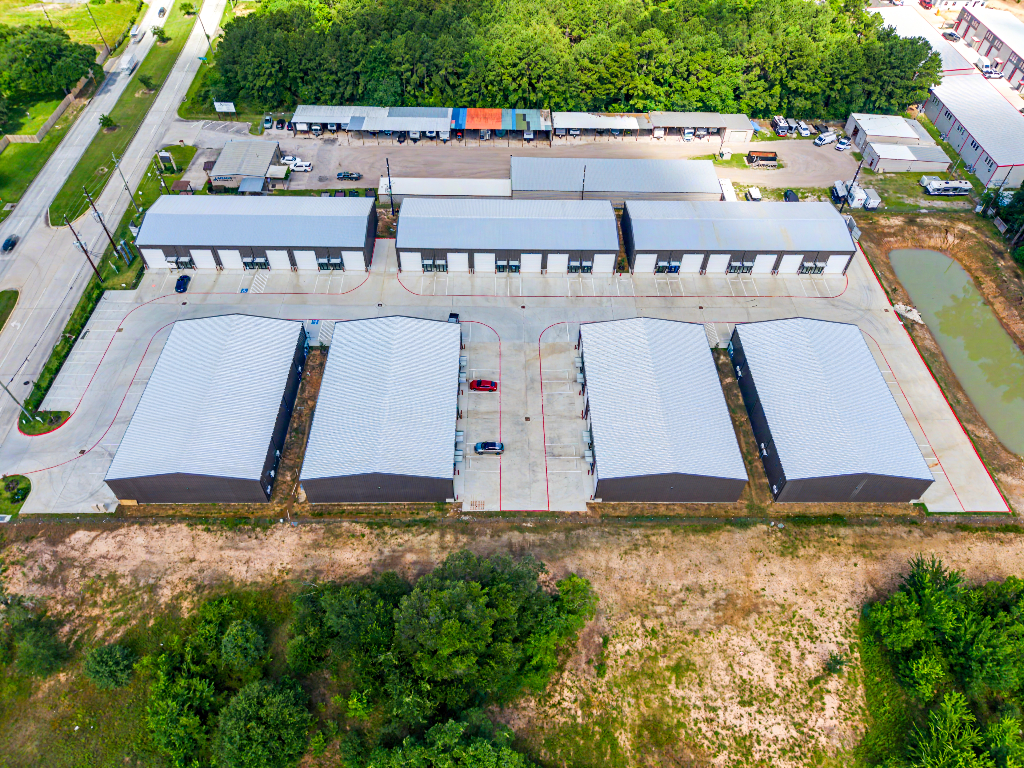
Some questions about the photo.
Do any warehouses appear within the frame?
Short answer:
Yes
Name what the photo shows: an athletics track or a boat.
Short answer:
boat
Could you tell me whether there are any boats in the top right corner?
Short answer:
Yes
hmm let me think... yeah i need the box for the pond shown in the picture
[888,248,1024,455]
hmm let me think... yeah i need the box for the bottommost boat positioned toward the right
[778,181,799,201]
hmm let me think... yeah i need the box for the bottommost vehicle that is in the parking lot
[474,443,504,458]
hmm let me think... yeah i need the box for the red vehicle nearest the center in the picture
[470,381,498,393]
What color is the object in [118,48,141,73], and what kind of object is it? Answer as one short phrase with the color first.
white truck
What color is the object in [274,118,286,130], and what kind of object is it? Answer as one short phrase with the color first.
black vehicle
